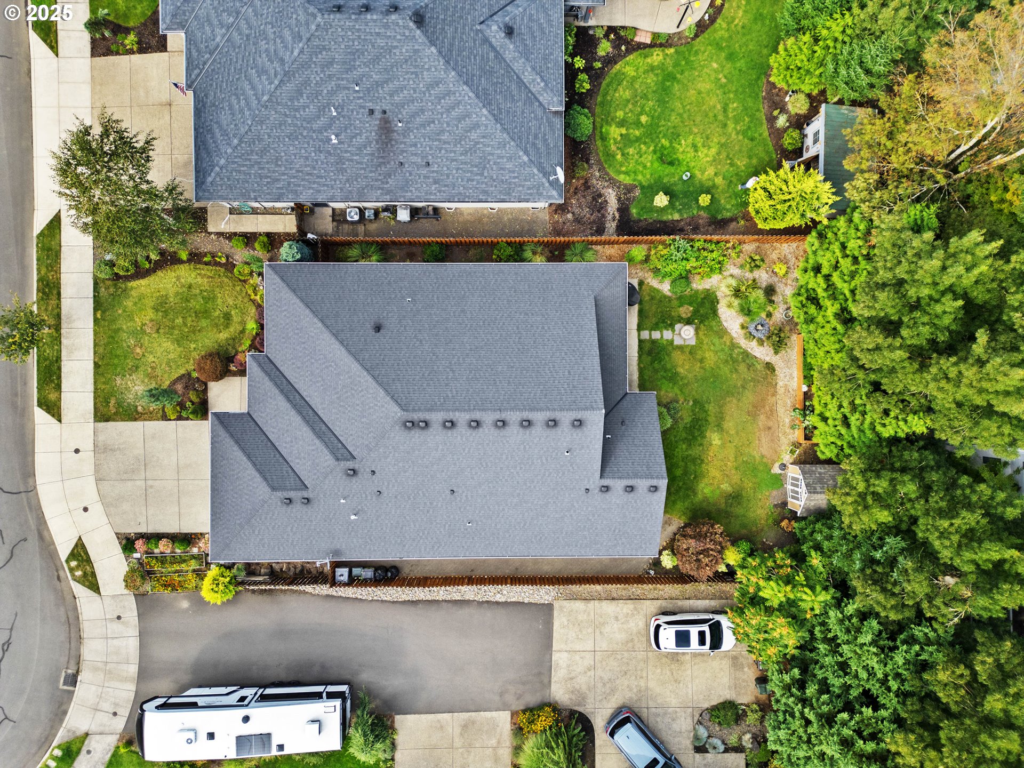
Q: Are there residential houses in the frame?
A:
Yes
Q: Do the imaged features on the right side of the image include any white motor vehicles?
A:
Yes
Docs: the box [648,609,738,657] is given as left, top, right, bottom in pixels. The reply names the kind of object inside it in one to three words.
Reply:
car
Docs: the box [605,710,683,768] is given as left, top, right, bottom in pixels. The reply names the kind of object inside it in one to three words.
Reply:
car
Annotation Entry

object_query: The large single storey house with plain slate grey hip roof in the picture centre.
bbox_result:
[207,261,668,564]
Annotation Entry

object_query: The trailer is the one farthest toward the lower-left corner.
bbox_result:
[134,677,355,759]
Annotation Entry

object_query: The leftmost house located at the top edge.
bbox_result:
[157,0,566,211]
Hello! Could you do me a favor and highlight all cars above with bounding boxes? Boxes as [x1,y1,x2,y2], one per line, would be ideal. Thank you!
[605,710,683,768]
[648,609,738,657]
